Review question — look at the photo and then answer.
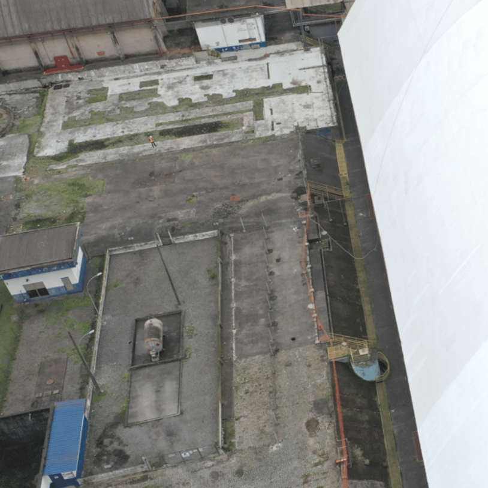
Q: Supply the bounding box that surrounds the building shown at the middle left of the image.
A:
[0,223,85,300]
